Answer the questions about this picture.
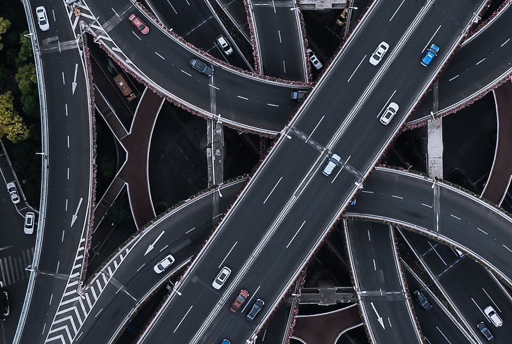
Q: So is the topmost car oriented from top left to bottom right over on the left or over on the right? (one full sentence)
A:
The topmost car oriented from top left to bottom right sits on the left side.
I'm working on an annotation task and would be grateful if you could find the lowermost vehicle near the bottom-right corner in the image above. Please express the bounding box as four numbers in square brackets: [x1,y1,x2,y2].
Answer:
[476,319,496,344]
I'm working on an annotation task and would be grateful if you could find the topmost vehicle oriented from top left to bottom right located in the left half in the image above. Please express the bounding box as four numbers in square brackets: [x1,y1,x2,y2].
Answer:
[128,10,151,35]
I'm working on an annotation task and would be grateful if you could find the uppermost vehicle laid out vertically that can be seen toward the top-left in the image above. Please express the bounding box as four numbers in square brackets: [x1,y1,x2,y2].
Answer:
[36,3,50,31]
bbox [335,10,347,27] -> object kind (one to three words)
vehicle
